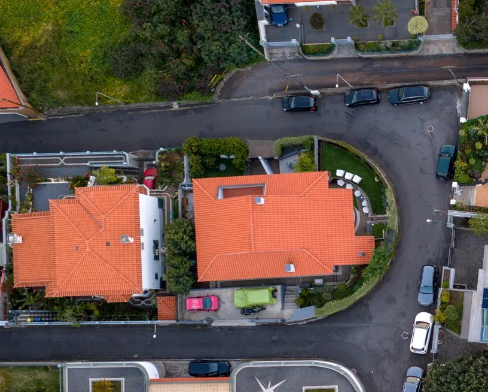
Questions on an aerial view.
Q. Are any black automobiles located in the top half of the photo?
Yes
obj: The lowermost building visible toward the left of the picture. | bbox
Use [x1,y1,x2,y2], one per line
[156,296,184,321]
